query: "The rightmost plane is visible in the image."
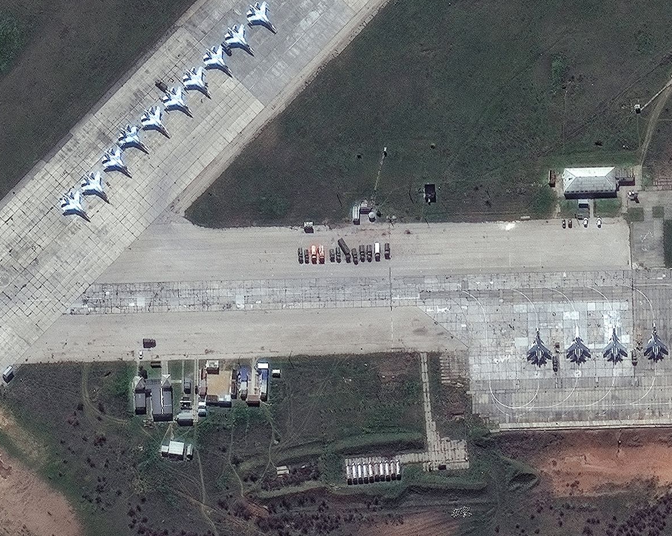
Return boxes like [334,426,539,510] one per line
[642,321,669,361]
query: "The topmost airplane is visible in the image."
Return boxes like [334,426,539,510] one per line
[246,1,276,32]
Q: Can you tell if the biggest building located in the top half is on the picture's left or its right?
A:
right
